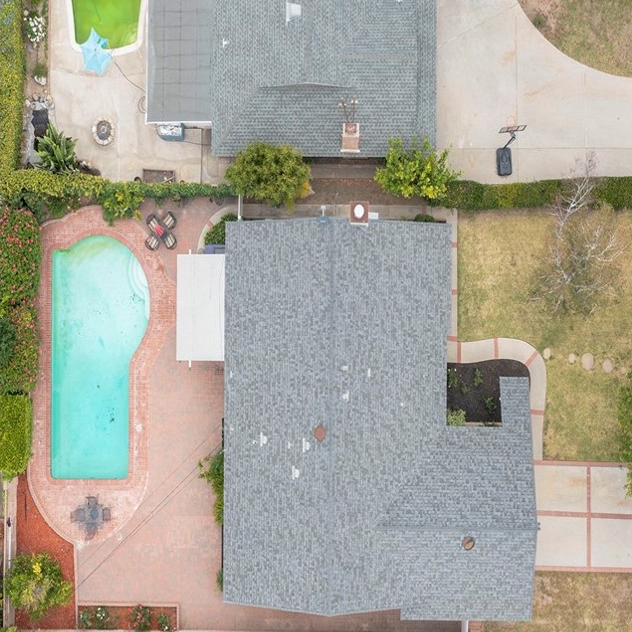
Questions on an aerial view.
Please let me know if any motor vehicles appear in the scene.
No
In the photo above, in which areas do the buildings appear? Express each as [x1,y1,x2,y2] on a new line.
[145,0,436,162]
[177,201,541,620]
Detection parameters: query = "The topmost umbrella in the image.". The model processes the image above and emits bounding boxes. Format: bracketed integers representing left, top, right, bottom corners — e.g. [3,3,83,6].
[81,29,113,74]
